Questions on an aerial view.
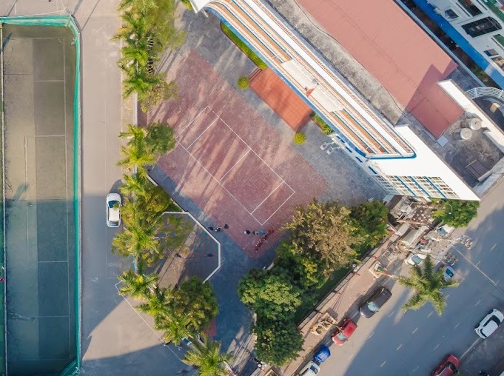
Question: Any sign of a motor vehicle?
Yes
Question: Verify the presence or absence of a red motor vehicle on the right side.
Yes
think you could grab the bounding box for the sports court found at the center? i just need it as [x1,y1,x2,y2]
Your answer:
[148,49,335,258]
